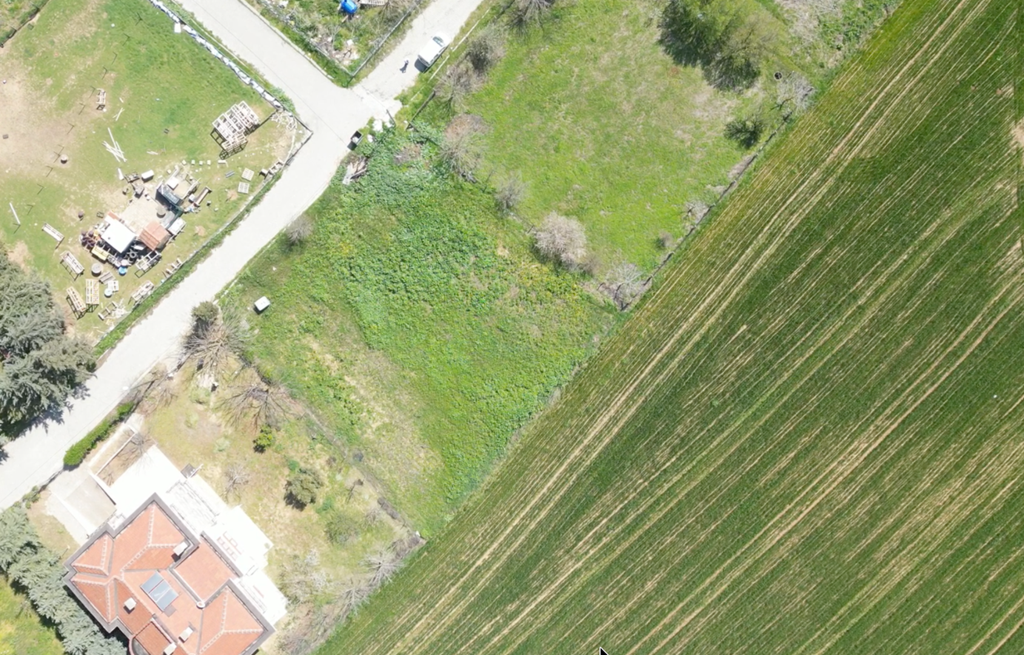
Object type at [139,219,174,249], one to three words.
shed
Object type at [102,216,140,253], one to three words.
shed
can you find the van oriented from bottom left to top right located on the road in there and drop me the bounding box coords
[418,33,453,68]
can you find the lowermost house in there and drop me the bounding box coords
[62,492,275,655]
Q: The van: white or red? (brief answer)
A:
white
